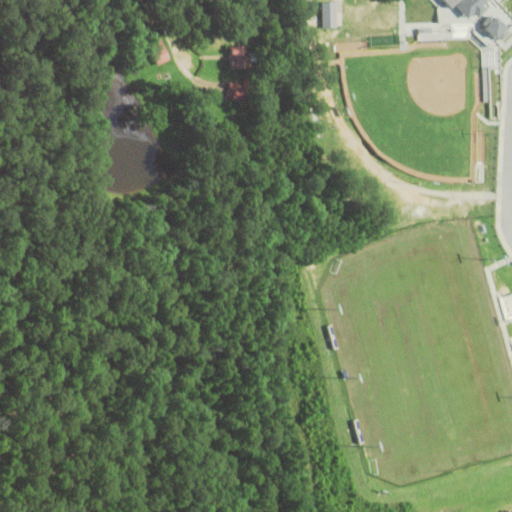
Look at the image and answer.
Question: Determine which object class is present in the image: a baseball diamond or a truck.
baseball diamond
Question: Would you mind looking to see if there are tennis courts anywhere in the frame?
No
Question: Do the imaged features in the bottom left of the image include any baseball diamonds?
No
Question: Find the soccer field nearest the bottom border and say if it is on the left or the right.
right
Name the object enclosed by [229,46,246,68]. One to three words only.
house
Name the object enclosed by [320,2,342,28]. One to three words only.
barn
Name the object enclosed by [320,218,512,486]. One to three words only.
soccer field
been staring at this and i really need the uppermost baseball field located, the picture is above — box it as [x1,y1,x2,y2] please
[336,42,484,184]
